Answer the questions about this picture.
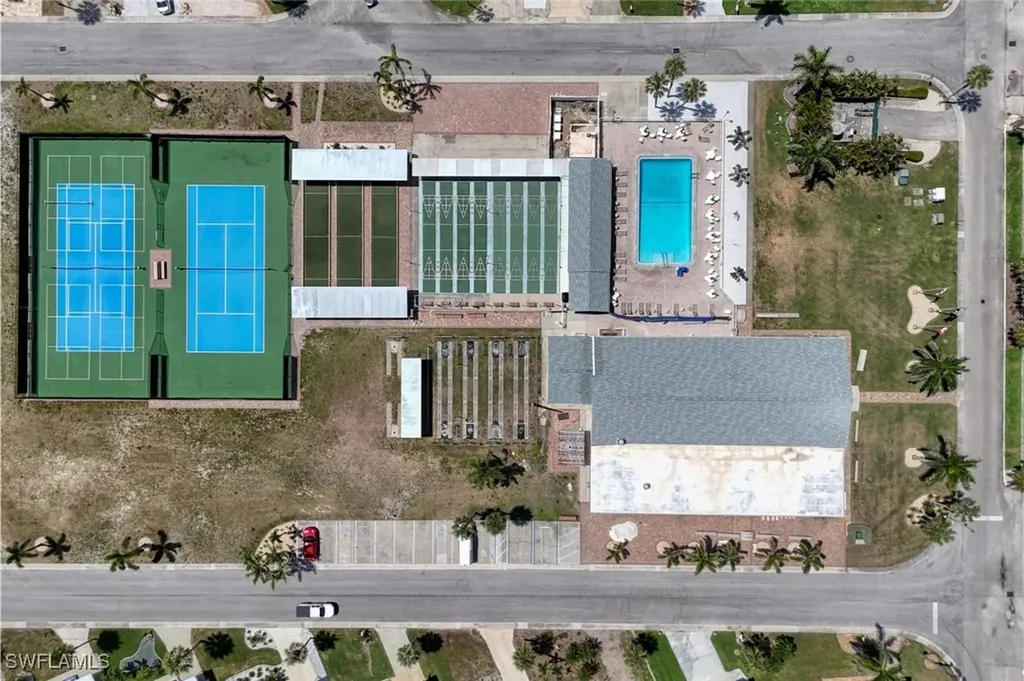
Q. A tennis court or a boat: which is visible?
tennis court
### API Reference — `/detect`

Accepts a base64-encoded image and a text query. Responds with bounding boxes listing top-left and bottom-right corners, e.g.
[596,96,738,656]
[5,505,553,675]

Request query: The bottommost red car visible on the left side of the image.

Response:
[301,526,319,561]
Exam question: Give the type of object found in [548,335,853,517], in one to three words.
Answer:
building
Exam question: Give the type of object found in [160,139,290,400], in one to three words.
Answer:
tennis court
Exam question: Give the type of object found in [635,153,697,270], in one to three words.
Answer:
swimming pool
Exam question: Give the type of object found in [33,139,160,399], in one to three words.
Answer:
tennis court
